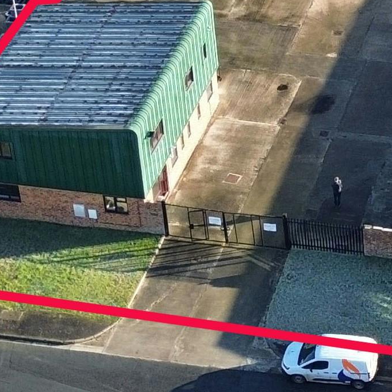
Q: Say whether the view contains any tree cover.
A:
No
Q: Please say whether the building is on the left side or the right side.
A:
left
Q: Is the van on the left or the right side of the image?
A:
right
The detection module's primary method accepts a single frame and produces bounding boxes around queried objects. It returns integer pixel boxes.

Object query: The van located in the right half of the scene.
[283,334,383,392]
